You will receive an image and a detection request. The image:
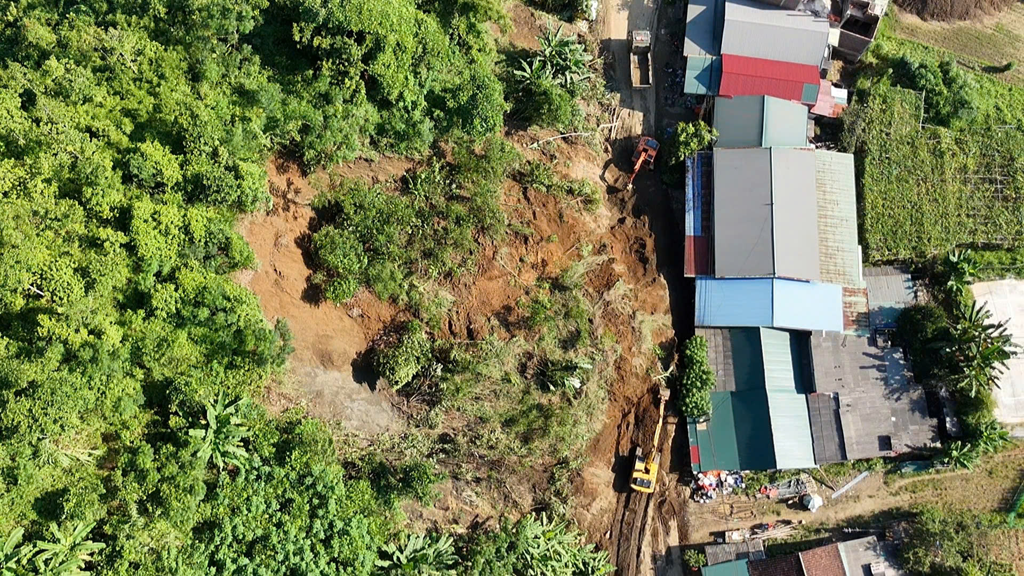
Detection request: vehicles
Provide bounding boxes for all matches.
[627,134,661,186]
[627,394,666,497]
[628,27,653,89]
